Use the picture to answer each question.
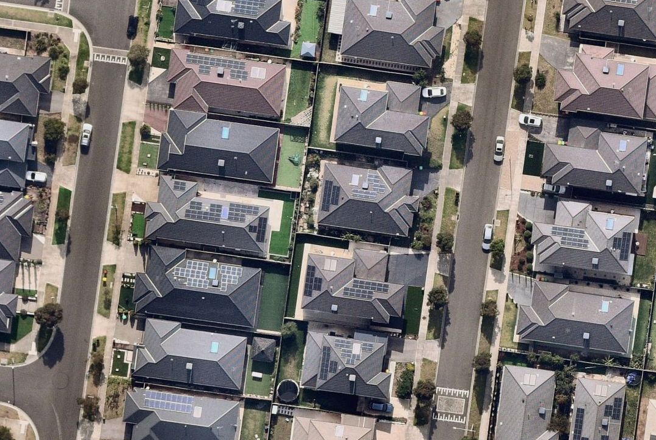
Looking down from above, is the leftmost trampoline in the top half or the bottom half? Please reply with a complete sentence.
You can find the leftmost trampoline in the bottom half.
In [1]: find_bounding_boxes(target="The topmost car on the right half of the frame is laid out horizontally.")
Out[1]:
[421,86,446,99]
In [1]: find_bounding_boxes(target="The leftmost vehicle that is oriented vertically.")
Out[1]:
[80,121,93,149]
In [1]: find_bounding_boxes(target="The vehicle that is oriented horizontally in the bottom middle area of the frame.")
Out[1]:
[369,400,394,414]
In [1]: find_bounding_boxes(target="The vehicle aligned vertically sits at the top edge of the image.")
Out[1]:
[127,15,140,40]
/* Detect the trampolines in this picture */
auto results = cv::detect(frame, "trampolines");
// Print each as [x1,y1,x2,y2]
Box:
[626,372,639,385]
[277,379,299,401]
